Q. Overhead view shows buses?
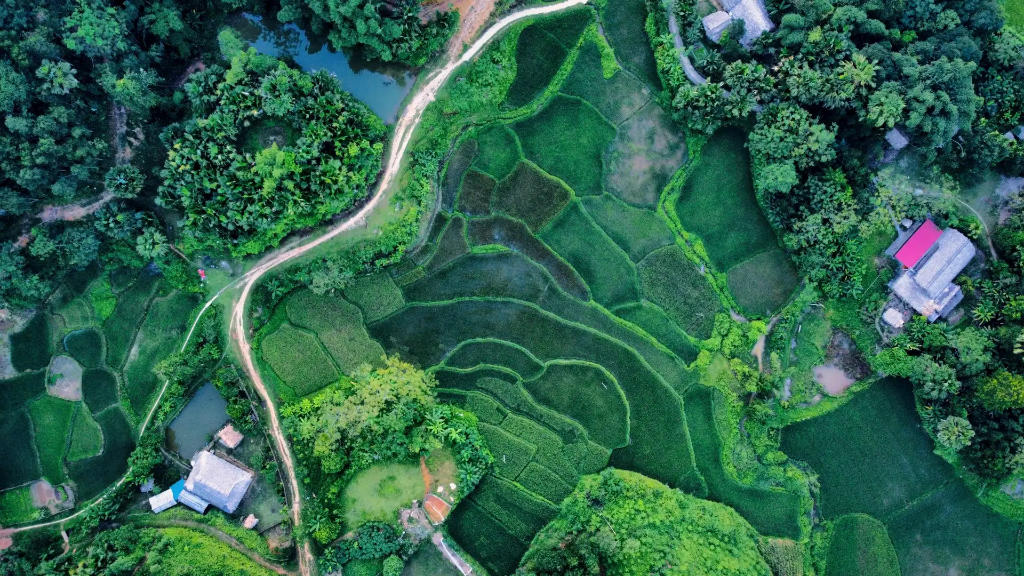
No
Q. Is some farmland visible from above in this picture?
Yes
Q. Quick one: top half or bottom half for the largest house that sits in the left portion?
bottom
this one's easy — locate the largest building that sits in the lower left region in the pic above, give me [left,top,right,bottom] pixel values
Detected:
[184,450,254,514]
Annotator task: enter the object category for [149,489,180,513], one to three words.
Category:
shed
